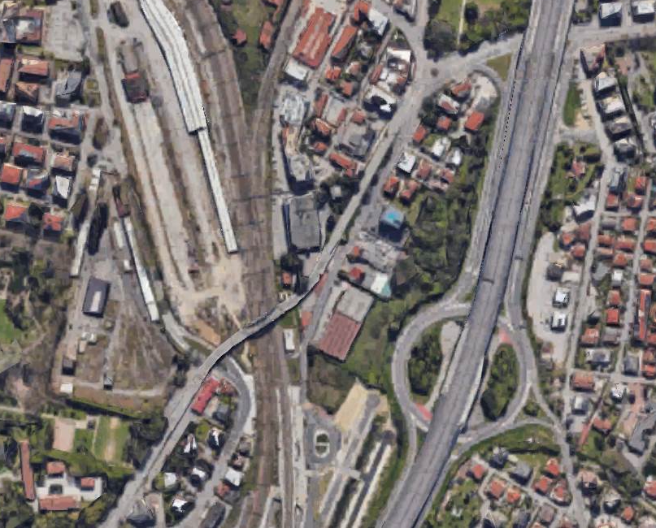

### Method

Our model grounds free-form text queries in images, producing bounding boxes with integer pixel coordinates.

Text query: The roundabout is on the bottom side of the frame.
[389,249,566,528]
